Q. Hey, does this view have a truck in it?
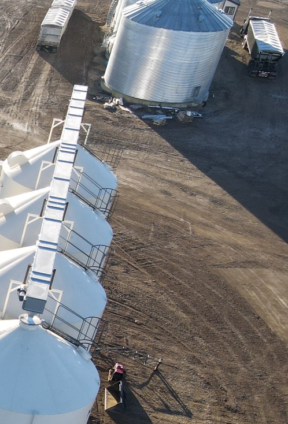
Yes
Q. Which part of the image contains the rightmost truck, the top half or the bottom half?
top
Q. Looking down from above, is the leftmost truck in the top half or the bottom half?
top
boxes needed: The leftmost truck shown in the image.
[35,0,73,53]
